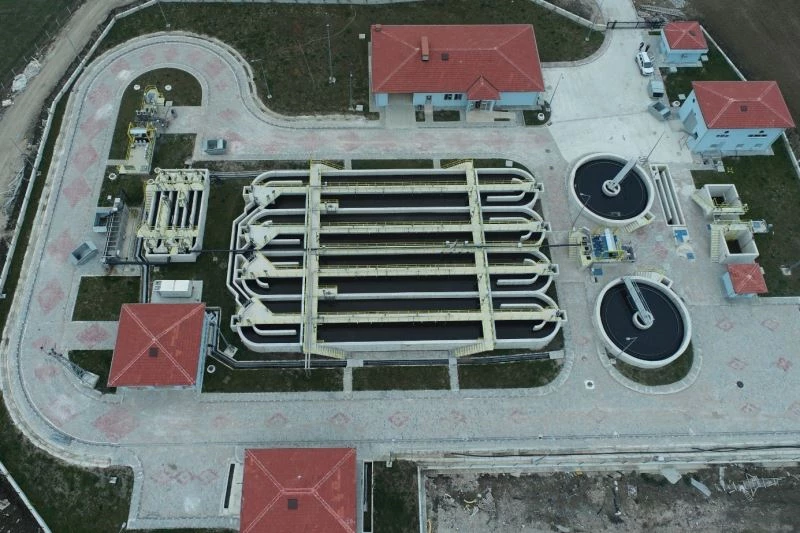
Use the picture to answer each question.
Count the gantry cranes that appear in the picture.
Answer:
0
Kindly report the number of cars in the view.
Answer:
1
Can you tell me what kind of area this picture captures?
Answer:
industrial area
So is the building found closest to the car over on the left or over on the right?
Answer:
right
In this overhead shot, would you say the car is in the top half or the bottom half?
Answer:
top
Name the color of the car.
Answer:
white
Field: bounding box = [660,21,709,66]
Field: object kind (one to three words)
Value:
building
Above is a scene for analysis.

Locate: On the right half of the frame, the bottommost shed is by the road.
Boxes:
[720,263,770,299]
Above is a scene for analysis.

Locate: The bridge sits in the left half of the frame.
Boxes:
[304,156,320,356]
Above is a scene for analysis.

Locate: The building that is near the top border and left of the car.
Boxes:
[370,23,545,119]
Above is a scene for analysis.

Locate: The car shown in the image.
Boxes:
[640,53,661,76]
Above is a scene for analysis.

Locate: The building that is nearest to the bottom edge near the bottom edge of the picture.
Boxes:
[238,445,358,533]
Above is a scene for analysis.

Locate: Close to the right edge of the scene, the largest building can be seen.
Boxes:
[677,80,797,156]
